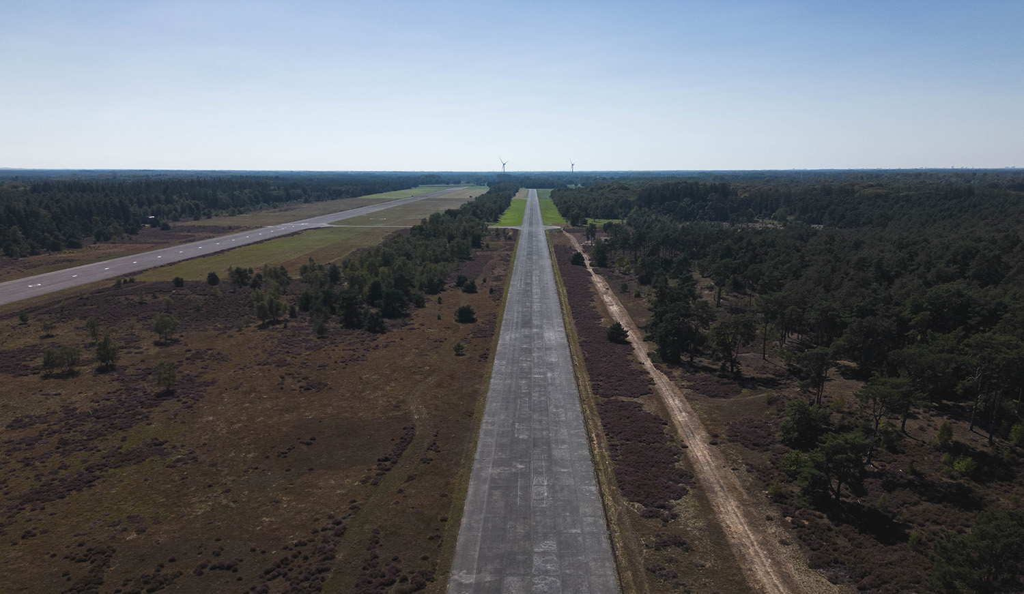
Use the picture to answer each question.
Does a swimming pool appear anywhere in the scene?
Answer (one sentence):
No, I find no swimming pool anywhere in the image.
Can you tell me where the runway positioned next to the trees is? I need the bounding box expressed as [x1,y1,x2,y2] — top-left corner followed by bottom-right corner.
[0,187,465,305]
